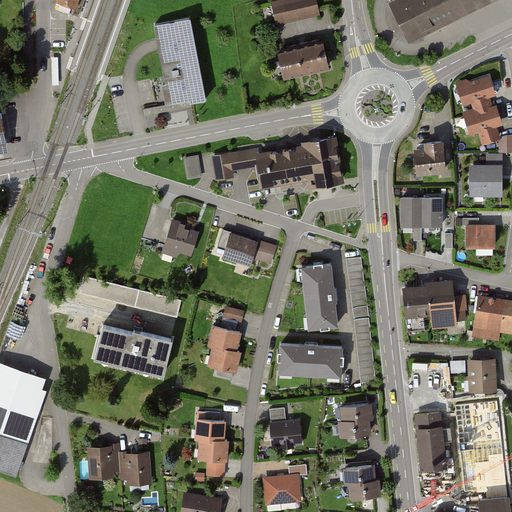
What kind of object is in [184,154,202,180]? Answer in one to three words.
building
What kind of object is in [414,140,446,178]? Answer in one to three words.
house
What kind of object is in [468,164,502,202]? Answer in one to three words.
house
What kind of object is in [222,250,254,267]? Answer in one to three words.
solar panel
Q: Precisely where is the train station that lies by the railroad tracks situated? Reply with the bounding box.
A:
[66,0,132,81]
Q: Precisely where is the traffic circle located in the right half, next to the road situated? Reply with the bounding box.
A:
[338,68,416,144]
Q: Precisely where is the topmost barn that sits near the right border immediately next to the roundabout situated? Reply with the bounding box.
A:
[389,0,498,44]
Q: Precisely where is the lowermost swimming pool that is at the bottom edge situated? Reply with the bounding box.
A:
[142,491,159,506]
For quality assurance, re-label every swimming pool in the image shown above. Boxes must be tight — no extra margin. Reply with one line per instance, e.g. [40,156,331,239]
[456,249,466,260]
[79,460,88,480]
[142,491,159,506]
